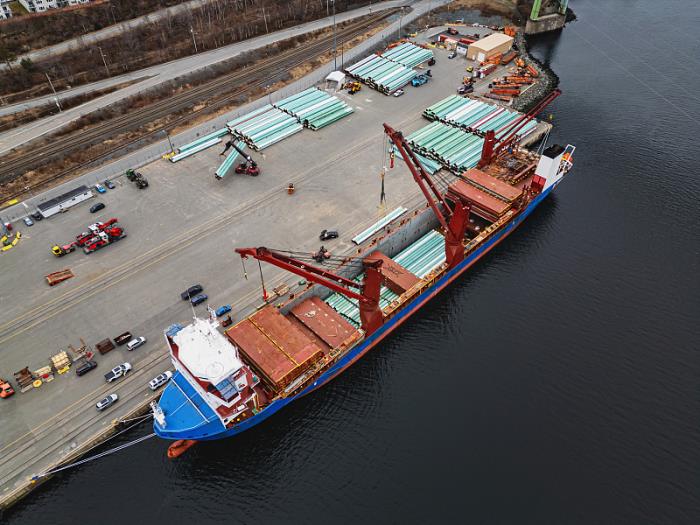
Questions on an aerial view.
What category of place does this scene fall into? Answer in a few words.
port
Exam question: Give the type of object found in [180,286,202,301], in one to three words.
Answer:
vehicle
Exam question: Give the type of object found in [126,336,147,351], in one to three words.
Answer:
car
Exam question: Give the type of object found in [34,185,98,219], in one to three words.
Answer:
building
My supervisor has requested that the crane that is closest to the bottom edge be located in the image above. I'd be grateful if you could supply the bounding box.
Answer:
[235,247,383,332]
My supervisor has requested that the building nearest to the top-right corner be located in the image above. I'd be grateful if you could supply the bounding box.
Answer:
[468,33,517,62]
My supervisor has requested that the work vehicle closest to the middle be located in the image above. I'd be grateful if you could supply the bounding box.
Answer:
[317,228,334,243]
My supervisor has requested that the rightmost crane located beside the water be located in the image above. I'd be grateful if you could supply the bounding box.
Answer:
[473,92,558,173]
